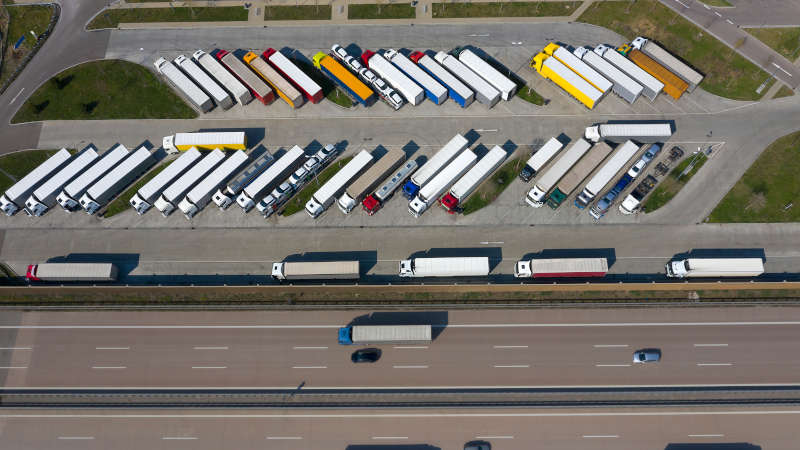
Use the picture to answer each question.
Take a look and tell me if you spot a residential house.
No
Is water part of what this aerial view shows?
No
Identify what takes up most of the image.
paved ground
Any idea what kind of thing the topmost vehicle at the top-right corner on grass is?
truck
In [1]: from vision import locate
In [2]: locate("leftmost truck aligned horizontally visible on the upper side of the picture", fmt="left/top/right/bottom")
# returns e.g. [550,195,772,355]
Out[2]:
[164,132,249,155]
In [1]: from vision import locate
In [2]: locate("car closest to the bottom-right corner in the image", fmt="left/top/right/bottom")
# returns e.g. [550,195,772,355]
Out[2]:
[633,349,661,362]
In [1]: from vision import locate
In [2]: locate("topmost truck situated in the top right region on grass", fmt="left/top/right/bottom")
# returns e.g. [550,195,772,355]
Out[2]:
[629,39,703,94]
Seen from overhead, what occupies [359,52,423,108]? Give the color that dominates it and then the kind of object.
white truck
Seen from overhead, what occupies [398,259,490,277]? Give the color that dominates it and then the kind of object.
white vehicle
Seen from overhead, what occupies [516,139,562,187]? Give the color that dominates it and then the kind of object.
white truck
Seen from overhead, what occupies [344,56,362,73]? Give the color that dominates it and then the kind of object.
white car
